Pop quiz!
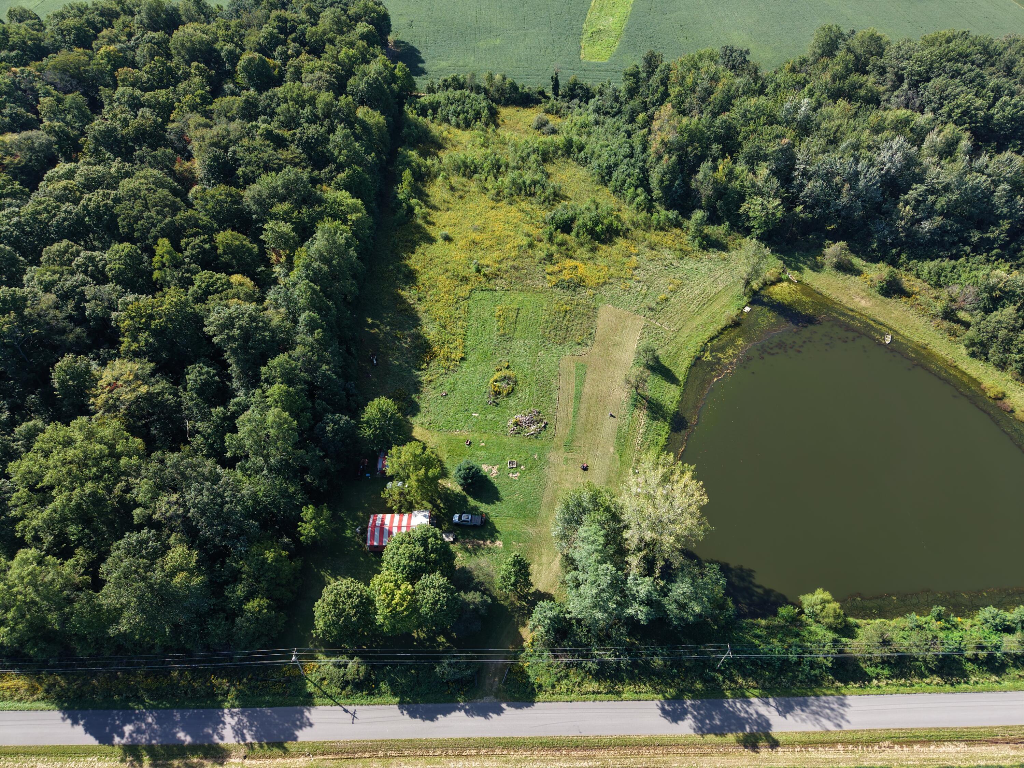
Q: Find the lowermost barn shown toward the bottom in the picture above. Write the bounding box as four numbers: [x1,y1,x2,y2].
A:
[367,508,430,551]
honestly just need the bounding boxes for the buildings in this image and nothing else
[376,451,401,475]
[367,508,430,551]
